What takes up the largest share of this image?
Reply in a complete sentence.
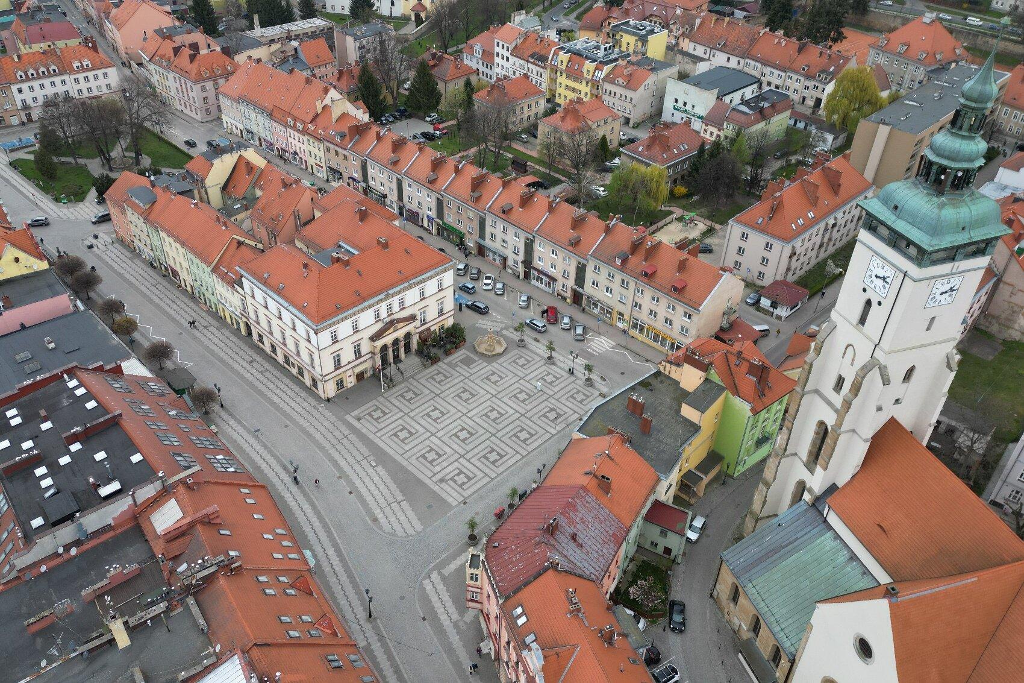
For the most part, this view shows buildings.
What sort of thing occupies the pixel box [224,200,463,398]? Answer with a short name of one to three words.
building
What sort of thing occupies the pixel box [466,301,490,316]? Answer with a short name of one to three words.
car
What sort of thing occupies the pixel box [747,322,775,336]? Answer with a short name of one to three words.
vehicle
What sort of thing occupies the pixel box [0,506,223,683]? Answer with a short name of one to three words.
building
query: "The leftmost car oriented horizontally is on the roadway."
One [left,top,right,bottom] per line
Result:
[26,215,51,227]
